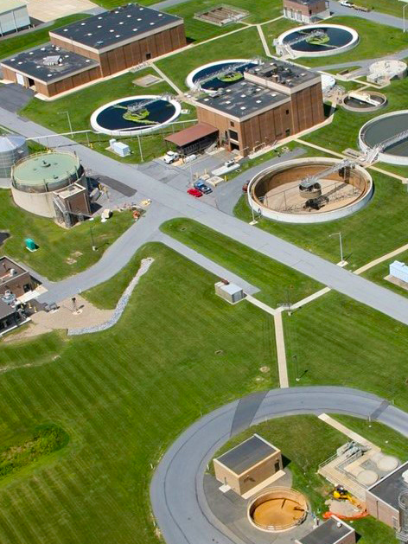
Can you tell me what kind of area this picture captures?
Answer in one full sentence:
What you see here is an industrial area.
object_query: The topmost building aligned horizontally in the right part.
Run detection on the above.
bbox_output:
[283,0,333,21]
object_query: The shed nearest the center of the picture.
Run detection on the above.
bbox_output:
[215,278,245,303]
